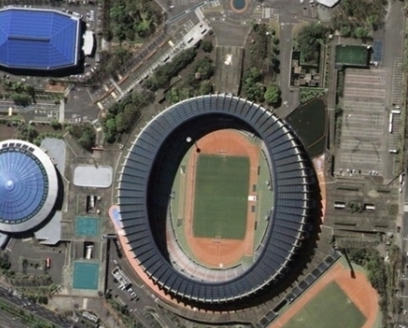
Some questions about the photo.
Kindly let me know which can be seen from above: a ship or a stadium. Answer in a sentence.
There is a stadium in the scene.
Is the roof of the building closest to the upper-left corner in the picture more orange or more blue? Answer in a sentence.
The roof of the building closest to the upper-left corner is blue.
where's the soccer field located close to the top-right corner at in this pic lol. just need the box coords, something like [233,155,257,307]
[334,42,373,69]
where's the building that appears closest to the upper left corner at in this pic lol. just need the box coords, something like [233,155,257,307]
[0,7,78,70]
